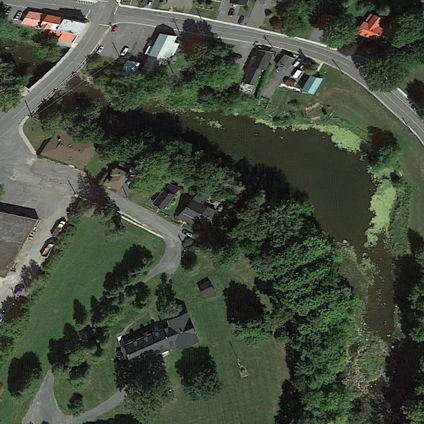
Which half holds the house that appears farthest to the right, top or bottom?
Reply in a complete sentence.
The house that appears farthest to the right sits in the top half of the picture.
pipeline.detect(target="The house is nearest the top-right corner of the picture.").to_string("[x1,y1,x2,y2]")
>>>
[357,13,385,40]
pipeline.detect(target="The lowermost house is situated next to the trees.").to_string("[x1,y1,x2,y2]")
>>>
[116,310,201,361]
